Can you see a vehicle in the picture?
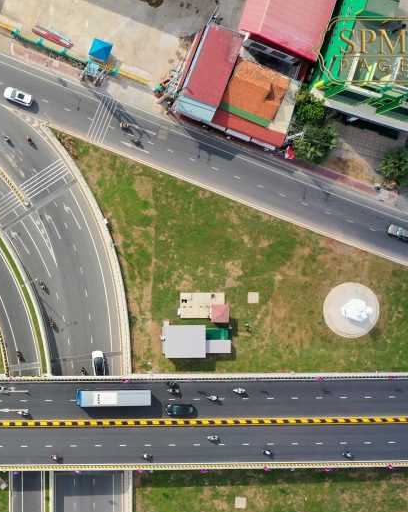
Yes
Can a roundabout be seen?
No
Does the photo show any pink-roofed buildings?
Yes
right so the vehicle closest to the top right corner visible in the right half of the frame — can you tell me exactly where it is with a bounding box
[383,224,408,243]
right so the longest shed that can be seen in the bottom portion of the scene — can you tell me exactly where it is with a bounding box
[160,321,231,358]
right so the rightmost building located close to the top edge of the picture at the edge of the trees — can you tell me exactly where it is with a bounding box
[306,0,408,141]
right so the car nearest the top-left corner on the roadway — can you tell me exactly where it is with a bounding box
[4,88,34,107]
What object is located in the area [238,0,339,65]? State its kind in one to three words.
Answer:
building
